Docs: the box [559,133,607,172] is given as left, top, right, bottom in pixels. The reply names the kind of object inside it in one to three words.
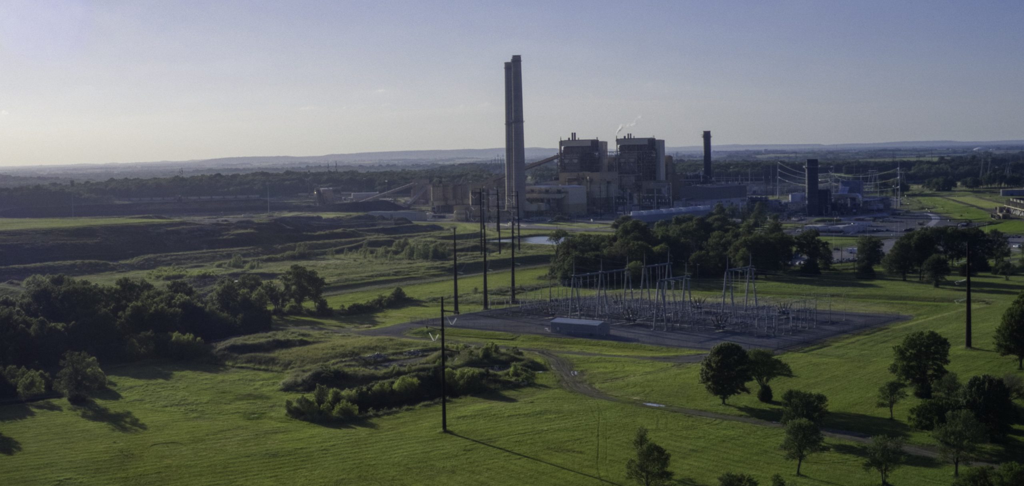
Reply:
building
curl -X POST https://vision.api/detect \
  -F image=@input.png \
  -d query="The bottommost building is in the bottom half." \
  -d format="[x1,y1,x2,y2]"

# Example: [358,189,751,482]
[550,314,603,336]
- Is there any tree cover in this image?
Yes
